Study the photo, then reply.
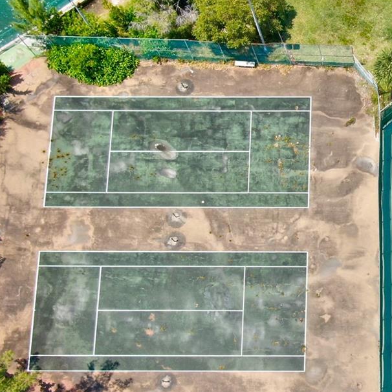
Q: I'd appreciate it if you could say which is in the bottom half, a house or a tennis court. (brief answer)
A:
tennis court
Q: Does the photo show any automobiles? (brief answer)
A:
No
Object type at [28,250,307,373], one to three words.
tennis court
